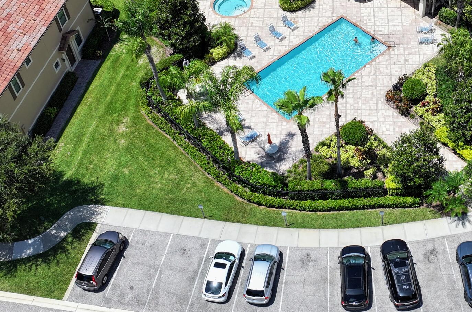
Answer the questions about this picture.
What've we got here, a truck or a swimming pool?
swimming pool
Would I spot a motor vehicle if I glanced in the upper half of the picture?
No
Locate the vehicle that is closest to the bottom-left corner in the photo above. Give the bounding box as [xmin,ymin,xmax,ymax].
[73,229,127,294]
